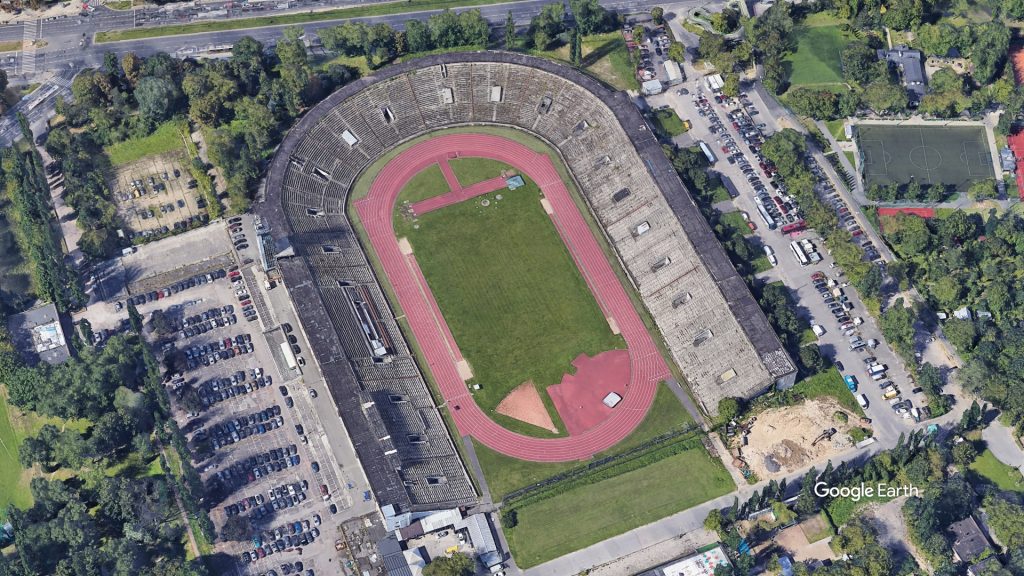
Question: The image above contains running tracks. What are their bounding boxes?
[353,134,708,502]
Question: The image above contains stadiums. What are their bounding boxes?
[256,47,800,515]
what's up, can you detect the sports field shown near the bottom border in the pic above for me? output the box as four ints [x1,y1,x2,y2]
[506,446,737,569]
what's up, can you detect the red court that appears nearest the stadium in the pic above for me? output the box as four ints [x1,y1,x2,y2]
[878,206,935,232]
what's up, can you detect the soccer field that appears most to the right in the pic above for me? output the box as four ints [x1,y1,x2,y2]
[855,124,1001,193]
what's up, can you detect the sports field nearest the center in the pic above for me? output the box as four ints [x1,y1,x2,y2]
[393,156,632,437]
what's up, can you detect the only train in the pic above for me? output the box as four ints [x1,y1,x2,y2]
[28,86,60,111]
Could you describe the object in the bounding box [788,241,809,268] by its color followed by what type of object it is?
white bus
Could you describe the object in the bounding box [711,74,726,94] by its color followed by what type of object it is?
white vehicle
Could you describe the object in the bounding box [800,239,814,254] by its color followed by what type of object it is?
white vehicle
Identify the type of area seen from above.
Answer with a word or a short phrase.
sports ground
